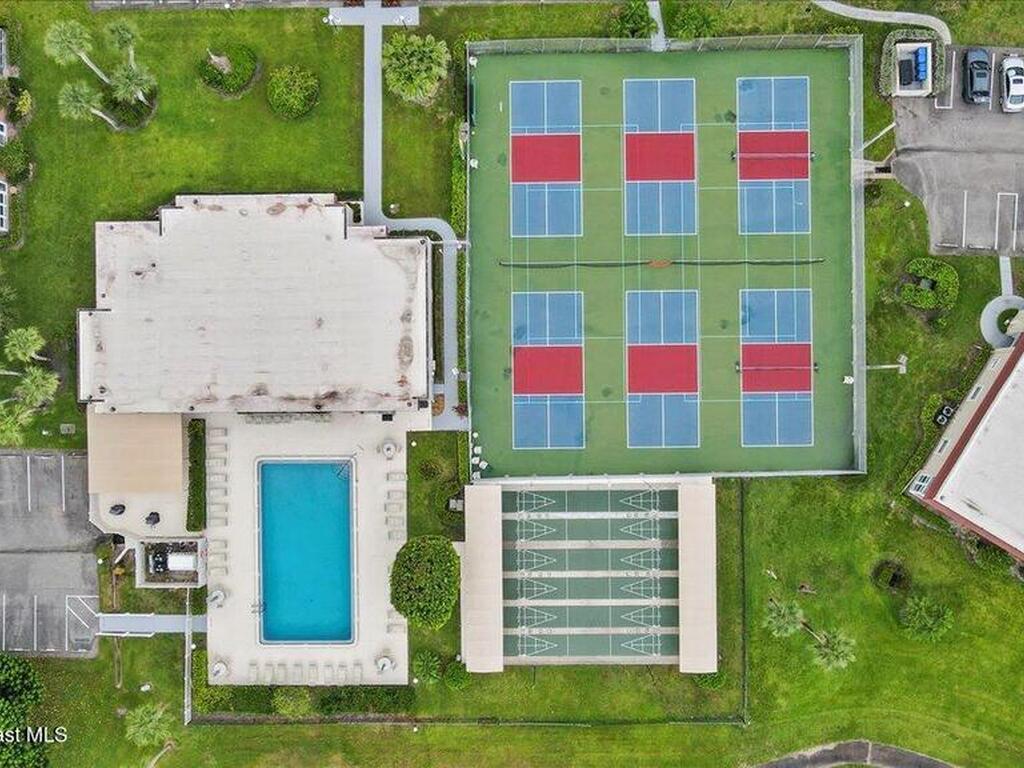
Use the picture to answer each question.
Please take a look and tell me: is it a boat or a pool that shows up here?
pool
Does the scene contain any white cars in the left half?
No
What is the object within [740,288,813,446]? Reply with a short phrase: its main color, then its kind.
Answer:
blue sports court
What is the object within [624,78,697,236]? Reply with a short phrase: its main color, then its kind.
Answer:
blue sports court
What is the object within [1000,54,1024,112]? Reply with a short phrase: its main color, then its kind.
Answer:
white car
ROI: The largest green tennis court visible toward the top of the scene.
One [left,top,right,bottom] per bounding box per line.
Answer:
[470,48,854,477]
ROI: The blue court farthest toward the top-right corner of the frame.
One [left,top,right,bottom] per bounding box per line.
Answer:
[738,76,811,233]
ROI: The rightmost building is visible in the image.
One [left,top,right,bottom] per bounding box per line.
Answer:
[905,300,1024,568]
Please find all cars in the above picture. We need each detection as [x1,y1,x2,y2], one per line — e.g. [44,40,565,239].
[1000,54,1024,112]
[960,49,994,106]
